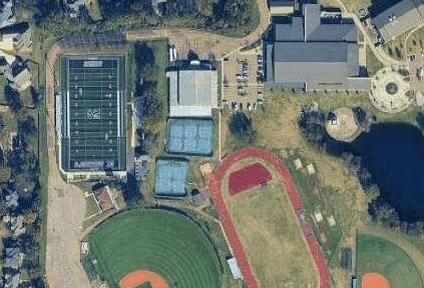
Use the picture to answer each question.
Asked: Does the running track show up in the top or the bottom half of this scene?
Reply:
bottom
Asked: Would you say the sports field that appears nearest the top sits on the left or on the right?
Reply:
left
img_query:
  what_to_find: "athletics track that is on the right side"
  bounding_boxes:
[208,147,328,288]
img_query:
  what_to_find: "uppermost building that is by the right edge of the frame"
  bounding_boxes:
[373,0,424,41]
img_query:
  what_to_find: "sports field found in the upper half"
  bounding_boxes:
[62,55,127,171]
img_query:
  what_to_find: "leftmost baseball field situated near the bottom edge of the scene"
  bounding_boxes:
[83,204,223,288]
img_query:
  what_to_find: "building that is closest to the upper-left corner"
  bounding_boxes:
[0,0,21,25]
